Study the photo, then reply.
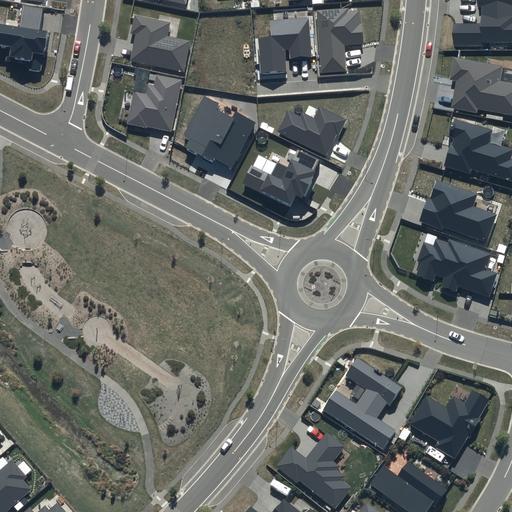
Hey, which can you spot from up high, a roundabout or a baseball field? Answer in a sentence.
Of the two, only a roundabout appears.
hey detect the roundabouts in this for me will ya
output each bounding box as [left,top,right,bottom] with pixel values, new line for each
[276,238,368,330]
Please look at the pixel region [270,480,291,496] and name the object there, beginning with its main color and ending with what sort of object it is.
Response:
white camper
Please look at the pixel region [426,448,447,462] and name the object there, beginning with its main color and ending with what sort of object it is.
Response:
white camper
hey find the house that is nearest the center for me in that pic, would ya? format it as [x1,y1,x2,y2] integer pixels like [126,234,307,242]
[242,150,318,210]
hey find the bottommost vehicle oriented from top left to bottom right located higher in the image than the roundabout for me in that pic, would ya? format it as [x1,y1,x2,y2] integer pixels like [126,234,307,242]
[333,144,349,158]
